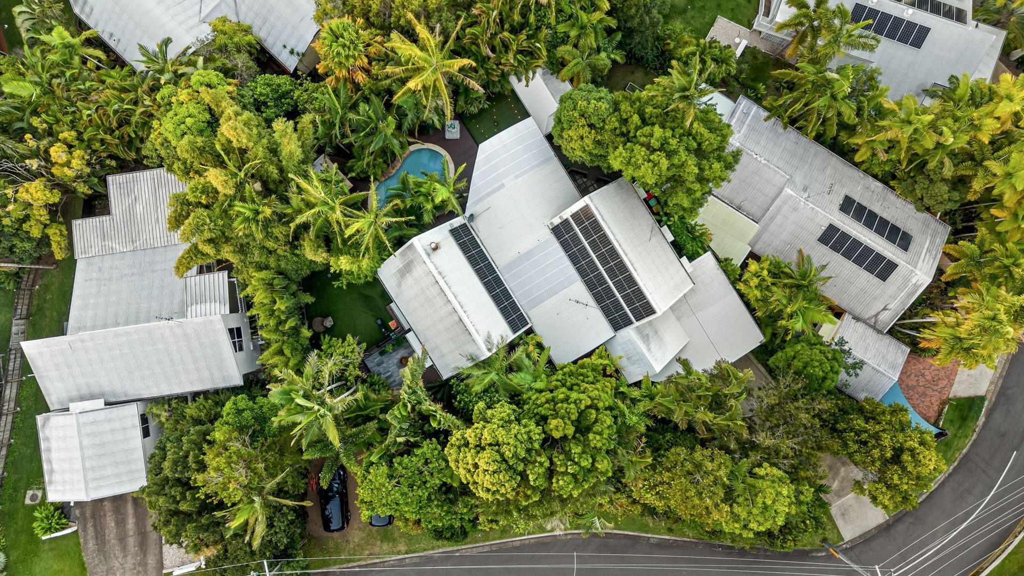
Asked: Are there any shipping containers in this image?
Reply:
No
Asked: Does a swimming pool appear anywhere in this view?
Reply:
Yes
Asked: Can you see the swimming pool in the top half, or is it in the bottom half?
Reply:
top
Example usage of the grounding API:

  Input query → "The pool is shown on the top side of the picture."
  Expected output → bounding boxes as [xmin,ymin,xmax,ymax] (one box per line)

[369,140,454,230]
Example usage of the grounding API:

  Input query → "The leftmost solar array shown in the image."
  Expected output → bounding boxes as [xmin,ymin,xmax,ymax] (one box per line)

[449,223,529,332]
